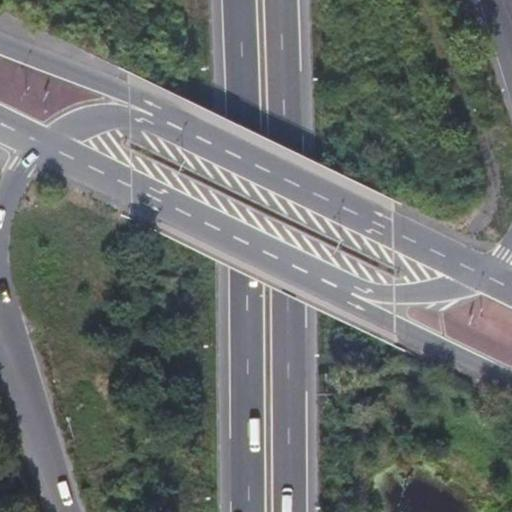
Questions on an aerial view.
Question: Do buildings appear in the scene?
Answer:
No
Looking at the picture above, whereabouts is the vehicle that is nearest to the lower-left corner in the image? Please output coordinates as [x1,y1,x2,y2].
[58,480,72,506]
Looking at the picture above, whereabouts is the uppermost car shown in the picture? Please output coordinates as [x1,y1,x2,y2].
[20,148,40,168]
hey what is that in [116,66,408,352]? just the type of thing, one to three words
overpass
